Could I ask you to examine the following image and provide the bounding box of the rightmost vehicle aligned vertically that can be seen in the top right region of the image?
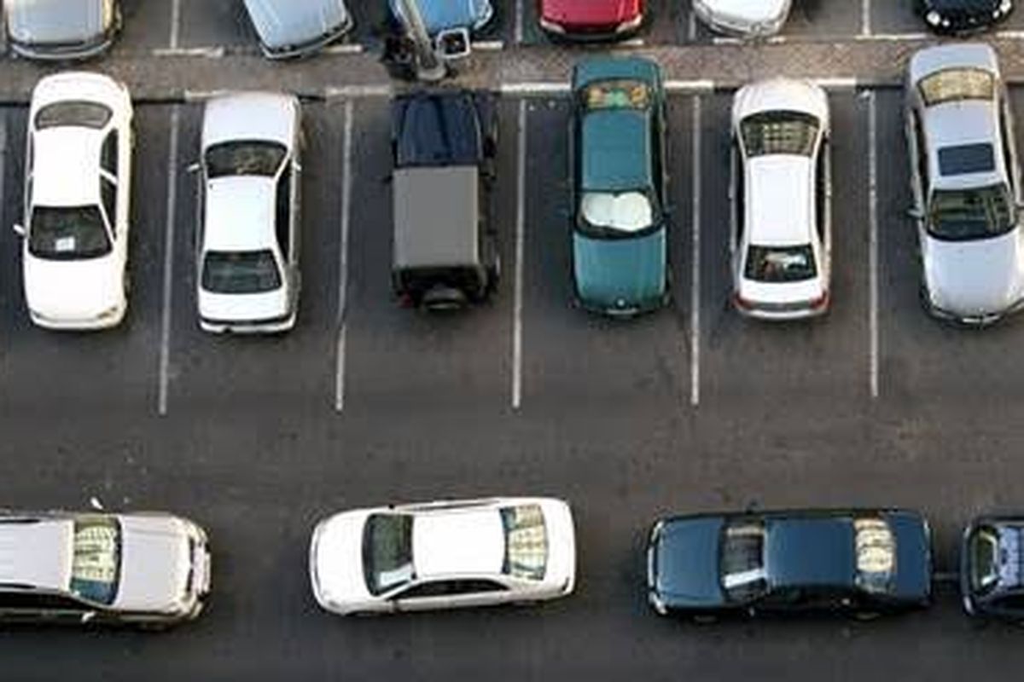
[902,42,1024,330]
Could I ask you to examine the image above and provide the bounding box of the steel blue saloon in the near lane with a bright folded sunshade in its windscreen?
[646,498,935,617]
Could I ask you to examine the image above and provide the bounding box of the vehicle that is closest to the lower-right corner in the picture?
[957,512,1024,620]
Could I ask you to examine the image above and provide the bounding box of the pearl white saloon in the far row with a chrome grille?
[698,0,795,45]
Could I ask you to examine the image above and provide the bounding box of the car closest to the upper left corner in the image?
[10,0,118,62]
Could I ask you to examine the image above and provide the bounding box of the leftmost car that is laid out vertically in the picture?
[15,73,136,333]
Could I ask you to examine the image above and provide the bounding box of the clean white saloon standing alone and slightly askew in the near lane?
[309,494,577,615]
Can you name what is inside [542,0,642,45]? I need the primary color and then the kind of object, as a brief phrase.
red car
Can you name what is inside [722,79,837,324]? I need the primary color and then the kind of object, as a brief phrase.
white car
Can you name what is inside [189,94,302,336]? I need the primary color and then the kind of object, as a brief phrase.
white car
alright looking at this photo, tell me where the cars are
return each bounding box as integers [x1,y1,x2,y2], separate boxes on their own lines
[309,494,577,615]
[422,0,495,42]
[646,498,935,617]
[914,0,1013,38]
[248,0,361,60]
[902,42,1024,330]
[698,0,795,45]
[189,94,302,336]
[10,0,118,62]
[722,79,837,324]
[15,73,136,333]
[957,512,1024,620]
[560,56,676,320]
[542,0,642,45]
